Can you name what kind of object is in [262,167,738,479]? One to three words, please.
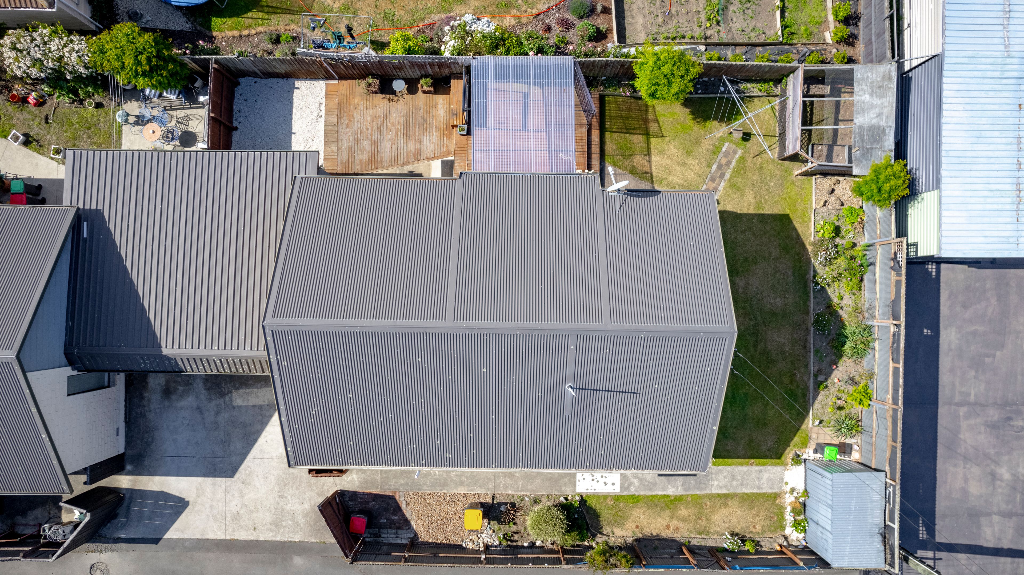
house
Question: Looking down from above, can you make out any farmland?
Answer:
No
